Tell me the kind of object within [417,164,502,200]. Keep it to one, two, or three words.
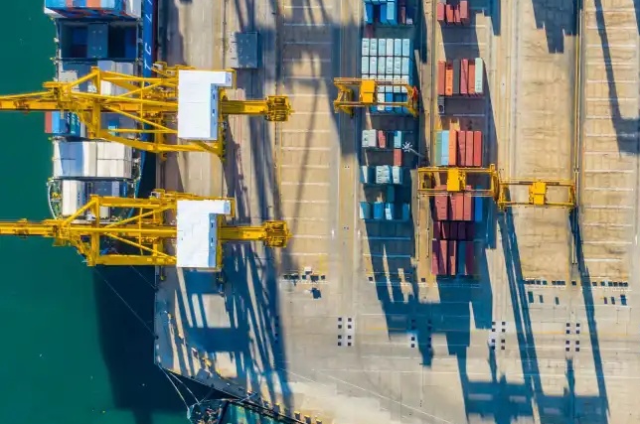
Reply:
container crane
